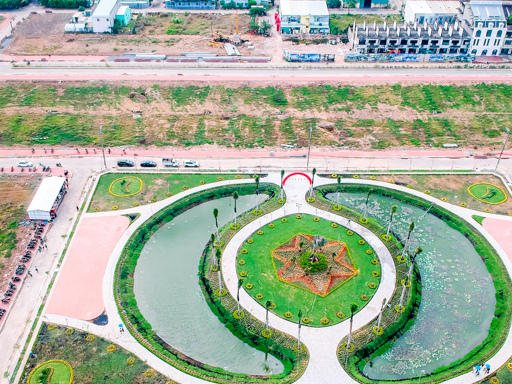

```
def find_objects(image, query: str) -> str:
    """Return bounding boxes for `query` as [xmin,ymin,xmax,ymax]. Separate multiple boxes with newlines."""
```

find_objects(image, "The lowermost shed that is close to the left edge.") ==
[23,168,73,221]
